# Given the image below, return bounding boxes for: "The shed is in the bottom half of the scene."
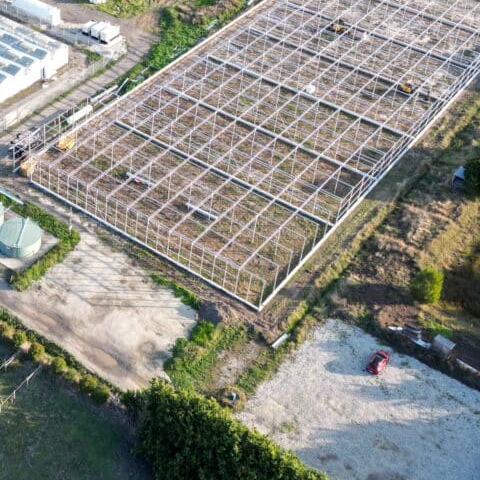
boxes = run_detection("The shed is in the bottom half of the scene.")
[432,334,459,362]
